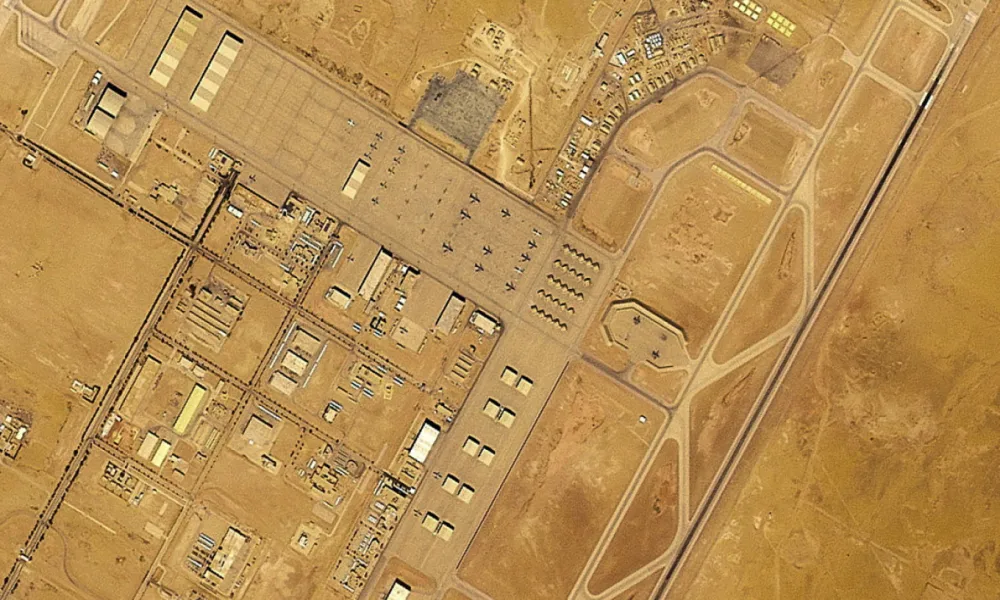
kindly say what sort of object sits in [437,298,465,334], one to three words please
hangar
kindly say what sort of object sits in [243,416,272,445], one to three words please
building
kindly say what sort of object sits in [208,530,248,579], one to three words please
building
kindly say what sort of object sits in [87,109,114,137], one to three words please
hangar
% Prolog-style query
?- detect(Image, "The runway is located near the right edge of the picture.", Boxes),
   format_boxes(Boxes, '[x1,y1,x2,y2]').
[648,0,989,600]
